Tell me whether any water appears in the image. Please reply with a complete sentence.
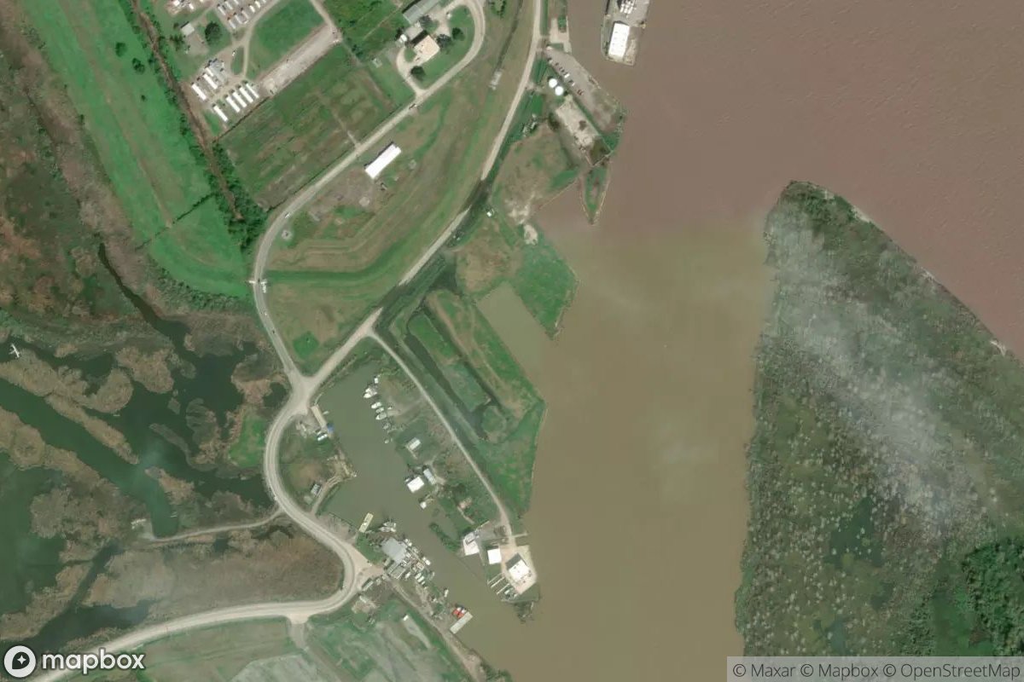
Yes, water can be seen from above here.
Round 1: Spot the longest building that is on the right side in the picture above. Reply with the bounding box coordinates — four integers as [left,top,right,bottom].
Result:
[608,22,630,58]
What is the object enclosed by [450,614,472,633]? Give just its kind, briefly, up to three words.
ship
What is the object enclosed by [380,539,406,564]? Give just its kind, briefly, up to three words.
shed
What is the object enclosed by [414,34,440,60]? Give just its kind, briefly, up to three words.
building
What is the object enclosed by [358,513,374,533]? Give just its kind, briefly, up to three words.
ship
